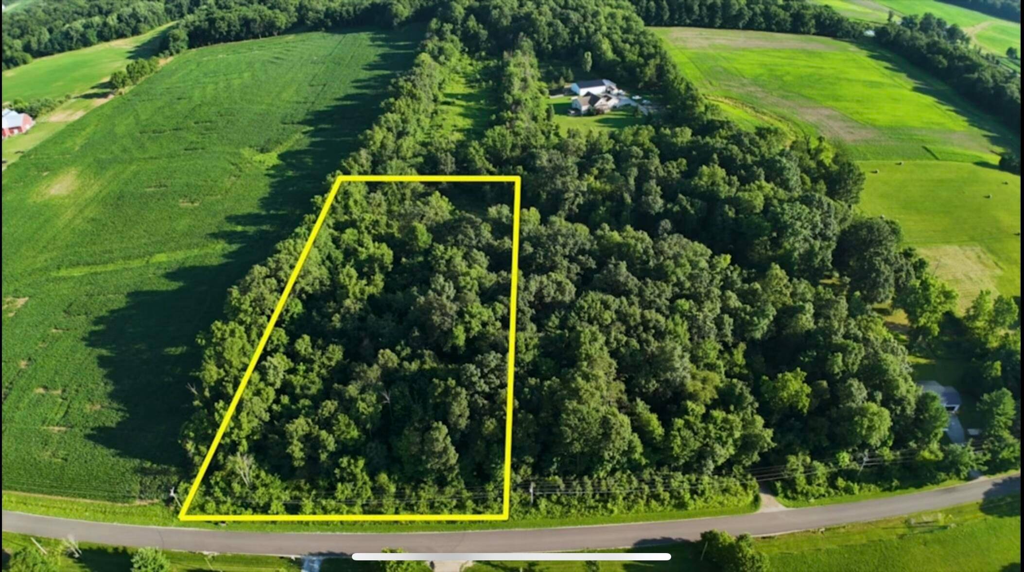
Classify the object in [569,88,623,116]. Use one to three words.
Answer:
house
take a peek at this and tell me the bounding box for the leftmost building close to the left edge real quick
[0,104,33,132]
